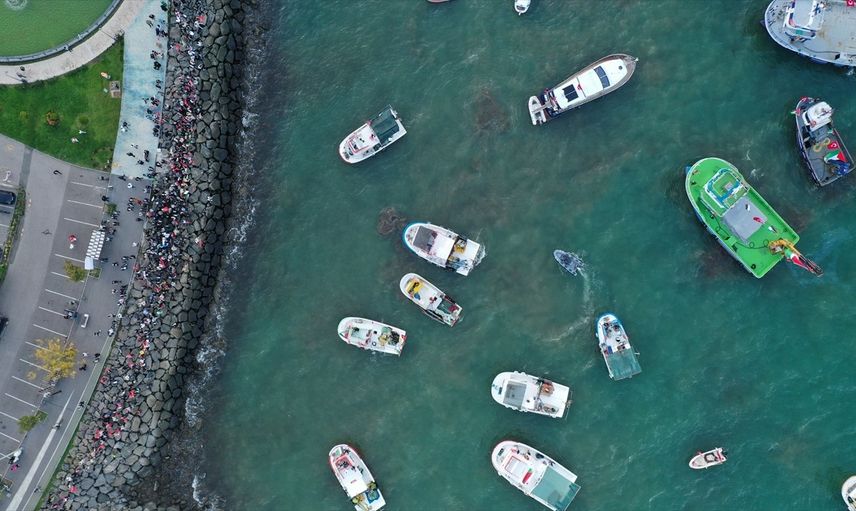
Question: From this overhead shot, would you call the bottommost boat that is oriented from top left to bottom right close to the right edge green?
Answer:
Yes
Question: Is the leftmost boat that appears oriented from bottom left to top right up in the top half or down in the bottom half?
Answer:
top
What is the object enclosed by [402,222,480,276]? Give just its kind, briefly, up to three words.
boat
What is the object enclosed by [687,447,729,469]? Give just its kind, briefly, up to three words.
boat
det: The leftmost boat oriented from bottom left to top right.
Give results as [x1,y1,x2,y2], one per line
[339,105,407,160]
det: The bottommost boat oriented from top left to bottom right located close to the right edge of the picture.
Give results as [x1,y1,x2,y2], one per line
[680,158,824,278]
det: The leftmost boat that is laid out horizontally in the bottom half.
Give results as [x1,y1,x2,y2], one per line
[338,319,407,357]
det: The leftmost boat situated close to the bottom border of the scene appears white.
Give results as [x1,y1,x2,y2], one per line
[329,444,385,511]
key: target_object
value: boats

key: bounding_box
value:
[339,105,407,160]
[791,95,853,183]
[553,250,583,275]
[402,222,480,276]
[529,54,639,120]
[836,474,856,511]
[687,447,729,469]
[492,370,571,418]
[329,444,385,511]
[680,158,824,278]
[596,314,641,381]
[400,274,464,327]
[338,319,407,357]
[759,0,856,73]
[514,0,531,17]
[491,441,580,511]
